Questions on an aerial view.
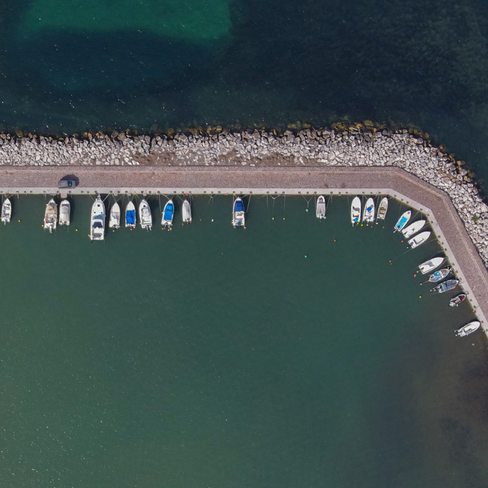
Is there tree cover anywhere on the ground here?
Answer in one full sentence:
No, there is no tree cover in the image.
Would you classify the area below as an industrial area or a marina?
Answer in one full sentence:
This image shows a marina.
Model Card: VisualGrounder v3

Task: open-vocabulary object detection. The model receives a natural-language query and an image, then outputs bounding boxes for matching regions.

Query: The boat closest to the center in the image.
[230,193,245,229]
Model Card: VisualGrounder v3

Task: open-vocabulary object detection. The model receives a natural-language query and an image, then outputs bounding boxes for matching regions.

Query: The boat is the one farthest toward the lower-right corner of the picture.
[456,322,479,338]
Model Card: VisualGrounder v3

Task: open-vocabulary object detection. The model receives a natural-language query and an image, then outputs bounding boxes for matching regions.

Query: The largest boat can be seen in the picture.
[91,193,105,247]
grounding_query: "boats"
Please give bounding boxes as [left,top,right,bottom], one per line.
[91,193,105,247]
[431,279,457,297]
[181,196,191,224]
[394,211,413,232]
[2,194,13,224]
[447,295,465,307]
[401,220,430,238]
[316,194,326,219]
[43,193,59,230]
[162,194,179,227]
[429,269,455,282]
[57,194,70,226]
[351,195,361,226]
[377,194,388,222]
[230,193,245,229]
[408,253,449,284]
[408,229,439,249]
[364,193,375,224]
[110,195,122,229]
[139,198,152,230]
[456,322,479,338]
[125,201,136,229]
